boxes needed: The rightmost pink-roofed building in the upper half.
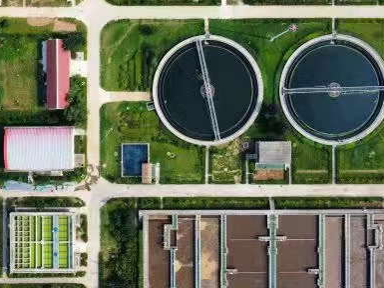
[42,37,83,109]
